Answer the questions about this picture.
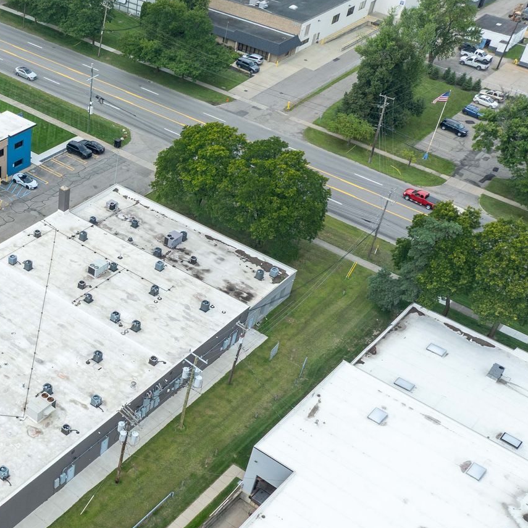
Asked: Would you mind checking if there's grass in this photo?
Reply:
Yes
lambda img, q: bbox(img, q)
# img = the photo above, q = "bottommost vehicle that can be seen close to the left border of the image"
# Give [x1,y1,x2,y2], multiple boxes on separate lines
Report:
[12,174,38,190]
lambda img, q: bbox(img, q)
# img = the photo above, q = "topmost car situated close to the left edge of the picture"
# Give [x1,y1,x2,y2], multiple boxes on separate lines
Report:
[14,66,38,80]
